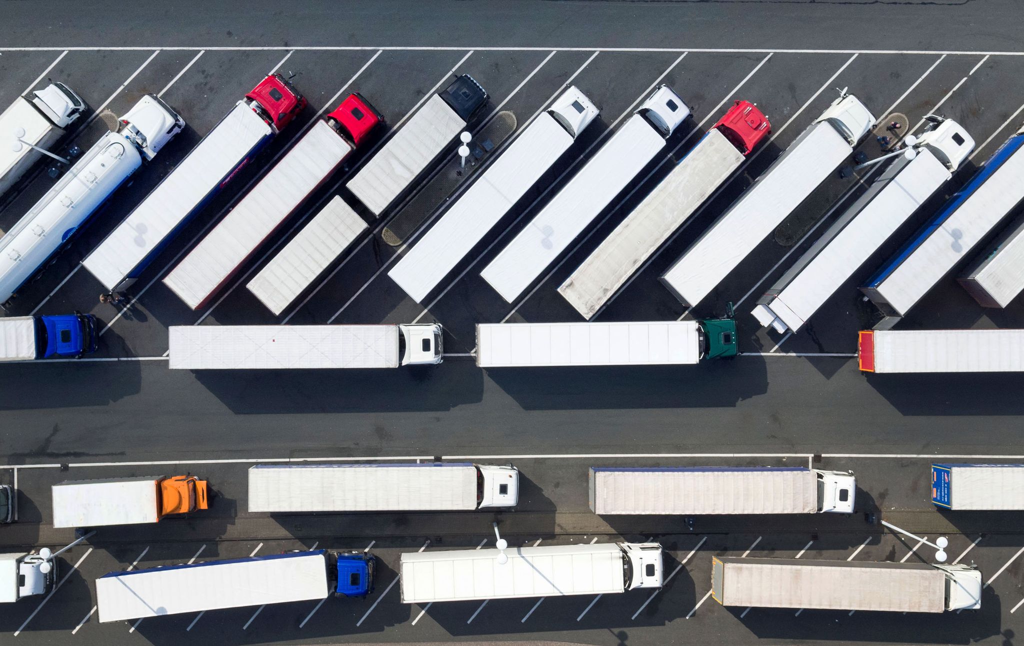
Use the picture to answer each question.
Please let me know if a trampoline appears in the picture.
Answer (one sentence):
No, the photo shows no trampoline.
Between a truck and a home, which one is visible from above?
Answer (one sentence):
This aerial view contains a truck.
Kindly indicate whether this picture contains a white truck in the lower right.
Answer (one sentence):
Yes, the scene does show a white truck in the lower right.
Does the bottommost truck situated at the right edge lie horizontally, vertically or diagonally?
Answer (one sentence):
The bottommost truck situated at the right edge is oriented horizontally.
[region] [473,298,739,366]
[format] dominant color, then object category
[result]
white truck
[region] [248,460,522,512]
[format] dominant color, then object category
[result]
white truck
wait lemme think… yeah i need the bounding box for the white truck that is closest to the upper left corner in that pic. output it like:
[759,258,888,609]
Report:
[0,77,92,205]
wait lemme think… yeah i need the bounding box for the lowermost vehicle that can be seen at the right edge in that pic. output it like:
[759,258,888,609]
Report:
[708,554,979,612]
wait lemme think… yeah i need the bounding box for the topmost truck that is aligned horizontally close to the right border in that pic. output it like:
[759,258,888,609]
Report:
[855,329,1024,372]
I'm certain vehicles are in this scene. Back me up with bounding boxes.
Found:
[0,478,17,526]
[387,83,603,305]
[0,547,66,602]
[94,547,375,623]
[754,114,972,337]
[248,460,522,512]
[708,554,979,612]
[0,77,92,205]
[0,311,102,360]
[52,470,208,529]
[246,71,494,316]
[163,91,388,311]
[656,86,875,309]
[168,321,443,369]
[928,462,1024,509]
[473,298,739,366]
[479,82,692,304]
[953,210,1024,309]
[553,97,771,320]
[588,465,855,514]
[80,70,307,294]
[857,127,1024,331]
[399,539,664,604]
[0,91,190,309]
[855,329,1024,372]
